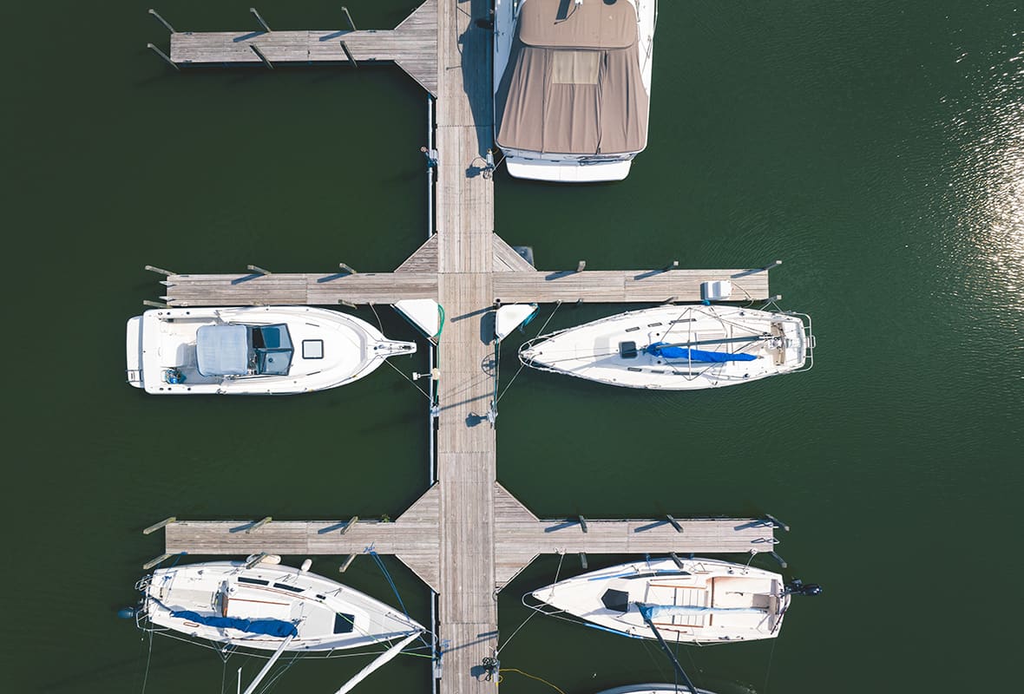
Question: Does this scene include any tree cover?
No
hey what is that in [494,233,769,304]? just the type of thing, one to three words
pier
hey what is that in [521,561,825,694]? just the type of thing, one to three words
boat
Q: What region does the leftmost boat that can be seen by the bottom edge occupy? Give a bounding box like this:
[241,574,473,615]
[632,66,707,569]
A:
[116,560,436,694]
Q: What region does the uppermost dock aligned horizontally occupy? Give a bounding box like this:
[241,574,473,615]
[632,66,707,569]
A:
[171,0,437,98]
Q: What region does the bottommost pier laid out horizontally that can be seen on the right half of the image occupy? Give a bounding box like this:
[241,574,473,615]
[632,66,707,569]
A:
[496,482,774,592]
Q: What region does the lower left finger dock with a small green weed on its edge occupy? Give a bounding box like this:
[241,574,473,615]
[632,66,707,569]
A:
[165,483,441,592]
